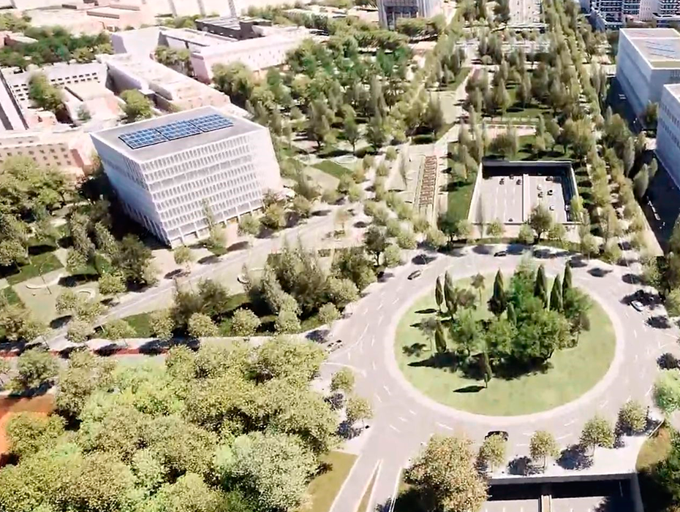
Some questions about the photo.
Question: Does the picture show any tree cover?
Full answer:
Yes, there's tree cover in this view.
